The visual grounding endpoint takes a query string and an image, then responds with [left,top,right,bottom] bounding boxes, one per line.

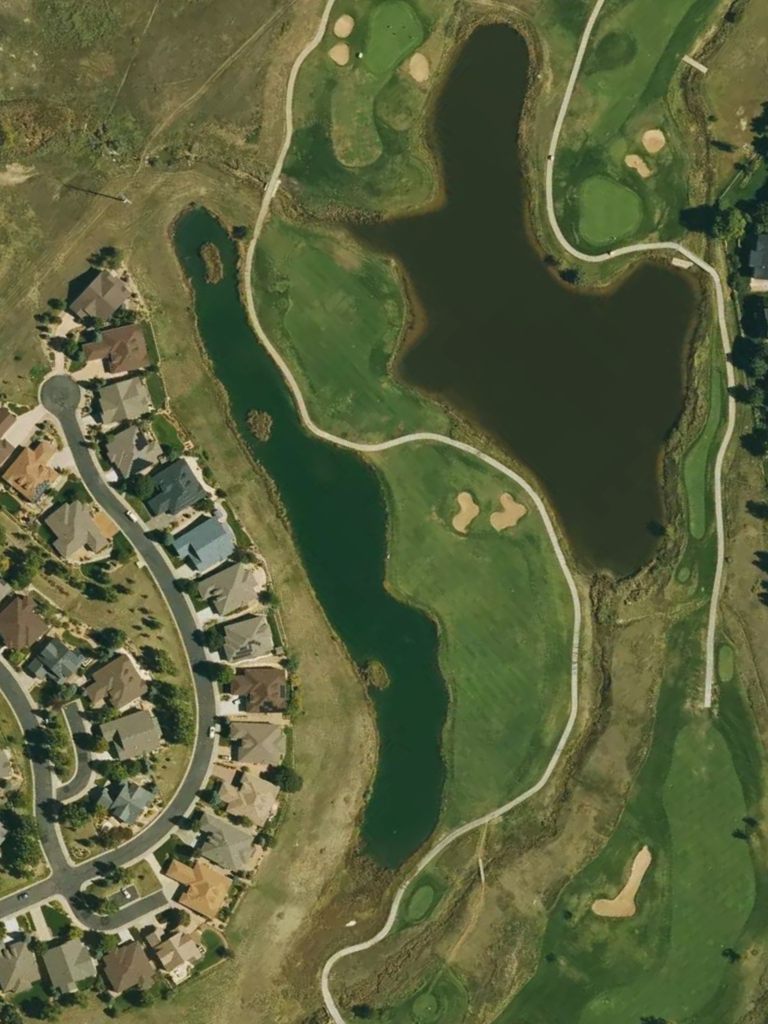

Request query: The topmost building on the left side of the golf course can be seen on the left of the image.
[71,264,130,323]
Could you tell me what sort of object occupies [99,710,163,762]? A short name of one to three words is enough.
house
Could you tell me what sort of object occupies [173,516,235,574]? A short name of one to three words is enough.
house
